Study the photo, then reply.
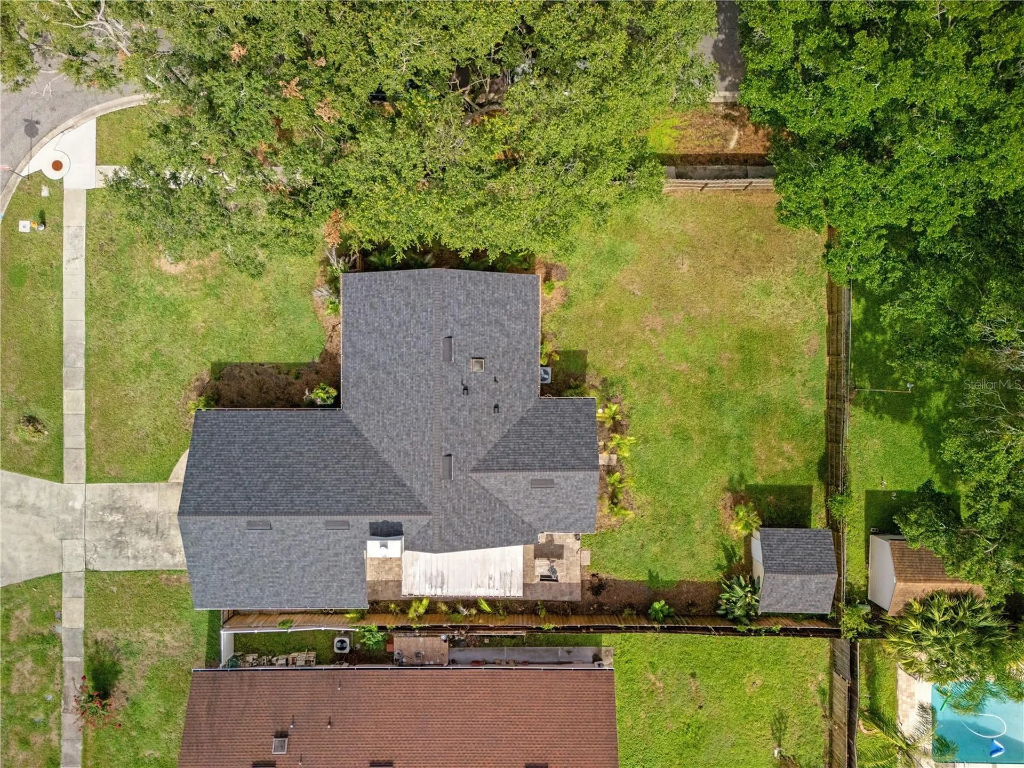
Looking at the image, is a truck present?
No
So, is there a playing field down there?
No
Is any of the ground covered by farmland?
No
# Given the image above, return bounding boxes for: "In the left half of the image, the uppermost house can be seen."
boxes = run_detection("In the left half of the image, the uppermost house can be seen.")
[176,267,600,610]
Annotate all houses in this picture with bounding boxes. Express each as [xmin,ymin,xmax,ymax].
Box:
[176,267,600,610]
[177,665,619,768]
